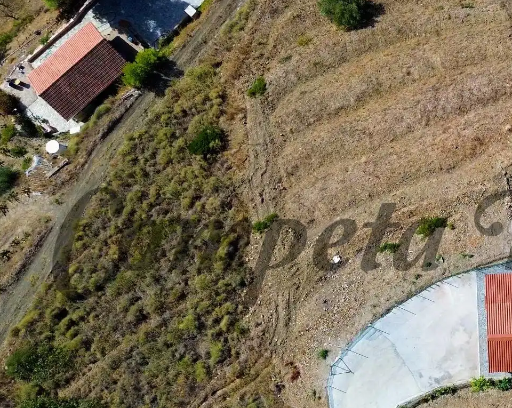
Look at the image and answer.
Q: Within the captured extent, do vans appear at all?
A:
No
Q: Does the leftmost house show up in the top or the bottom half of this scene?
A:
top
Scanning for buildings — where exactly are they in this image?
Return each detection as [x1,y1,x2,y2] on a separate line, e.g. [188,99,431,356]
[27,21,129,121]
[485,273,512,373]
